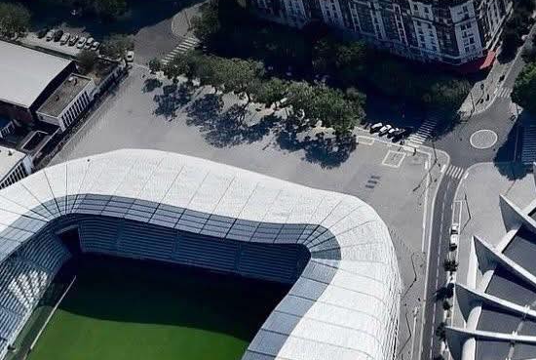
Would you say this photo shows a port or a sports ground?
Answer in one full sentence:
The picture captures a sports ground.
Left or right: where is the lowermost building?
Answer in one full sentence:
The lowermost building appears in the left half of the scene.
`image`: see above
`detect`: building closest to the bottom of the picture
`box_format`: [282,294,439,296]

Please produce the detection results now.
[0,145,31,189]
